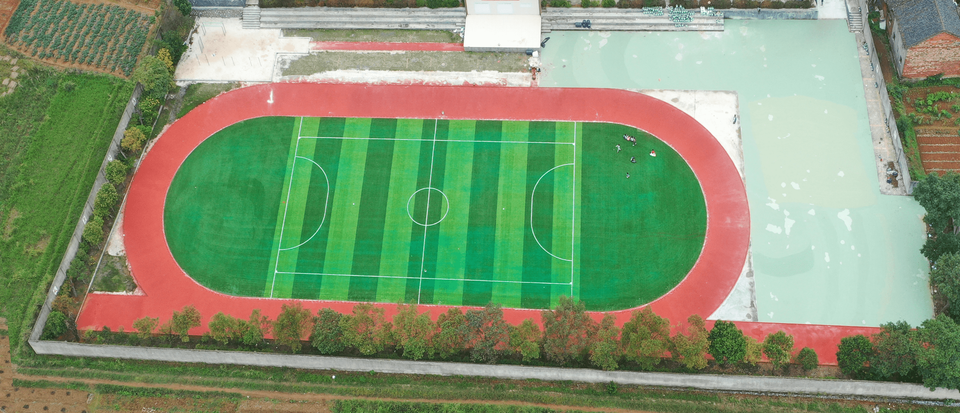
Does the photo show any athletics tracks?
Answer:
Yes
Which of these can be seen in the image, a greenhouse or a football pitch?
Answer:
football pitch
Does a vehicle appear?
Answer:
No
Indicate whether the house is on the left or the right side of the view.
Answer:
right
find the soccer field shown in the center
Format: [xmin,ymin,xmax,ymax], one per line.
[164,116,707,312]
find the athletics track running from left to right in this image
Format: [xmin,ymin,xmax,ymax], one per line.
[77,82,916,365]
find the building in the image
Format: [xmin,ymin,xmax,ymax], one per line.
[878,0,960,78]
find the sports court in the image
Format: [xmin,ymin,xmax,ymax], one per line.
[538,18,933,327]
